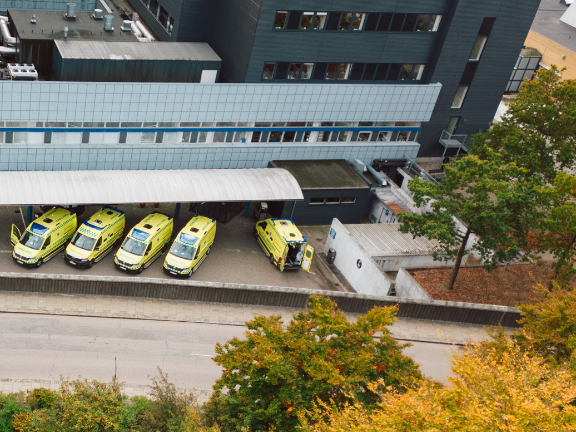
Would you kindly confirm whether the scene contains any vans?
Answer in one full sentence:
Yes, a van is visible in the scene.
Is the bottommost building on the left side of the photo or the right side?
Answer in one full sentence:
The bottommost building sits on the right side.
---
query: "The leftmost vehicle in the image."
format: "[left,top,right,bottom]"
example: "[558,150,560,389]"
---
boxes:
[11,203,78,269]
